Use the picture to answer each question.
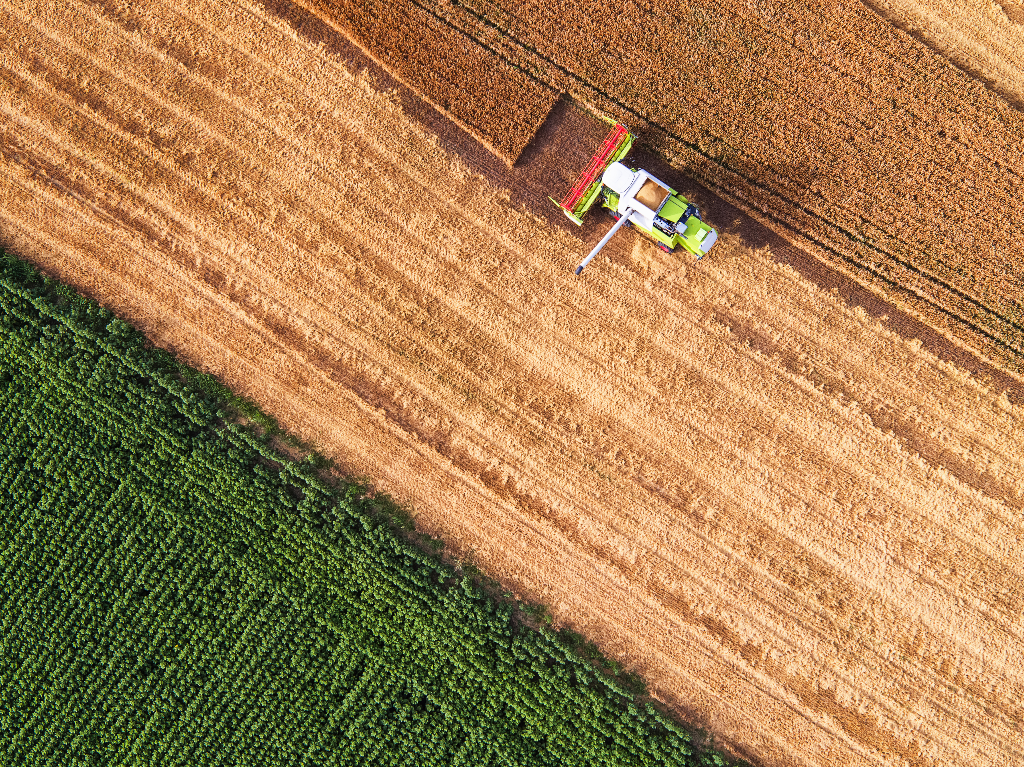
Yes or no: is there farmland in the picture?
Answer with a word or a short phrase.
Yes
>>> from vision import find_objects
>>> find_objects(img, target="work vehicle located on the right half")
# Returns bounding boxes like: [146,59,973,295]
[547,117,715,269]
